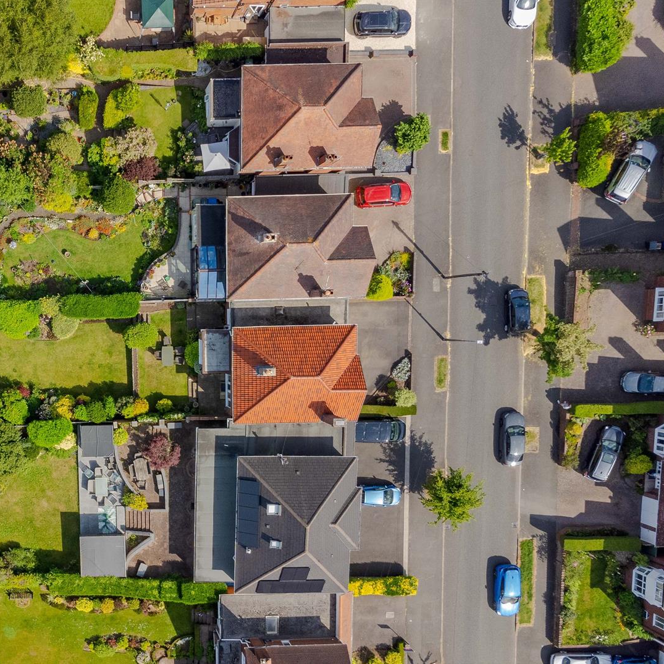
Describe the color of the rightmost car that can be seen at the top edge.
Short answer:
white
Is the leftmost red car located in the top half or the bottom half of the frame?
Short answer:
top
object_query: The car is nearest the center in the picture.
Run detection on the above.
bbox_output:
[356,417,404,445]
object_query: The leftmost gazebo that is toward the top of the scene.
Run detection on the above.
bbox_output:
[139,0,174,38]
